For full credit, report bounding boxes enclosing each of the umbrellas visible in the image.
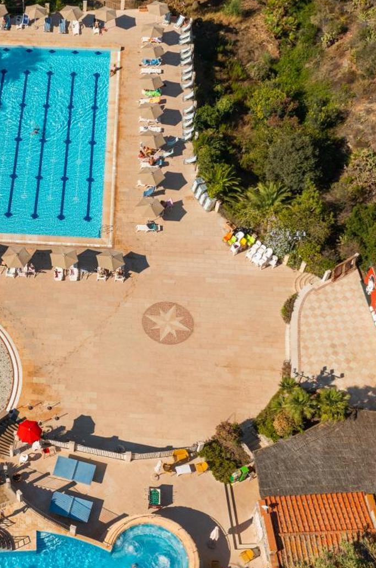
[139,23,166,43]
[136,100,163,128]
[145,0,172,26]
[23,4,51,20]
[94,6,121,23]
[0,3,13,19]
[137,72,166,98]
[47,245,82,275]
[135,196,167,224]
[136,165,167,191]
[152,459,163,477]
[97,247,131,276]
[139,129,169,156]
[60,4,87,30]
[14,419,45,448]
[2,244,34,273]
[206,529,218,546]
[138,42,168,68]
